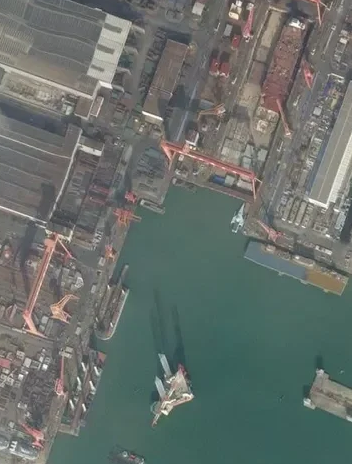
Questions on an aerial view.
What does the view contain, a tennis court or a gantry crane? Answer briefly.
gantry crane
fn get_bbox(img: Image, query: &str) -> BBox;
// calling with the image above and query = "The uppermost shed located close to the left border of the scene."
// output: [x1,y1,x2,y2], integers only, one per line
[0,0,133,100]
